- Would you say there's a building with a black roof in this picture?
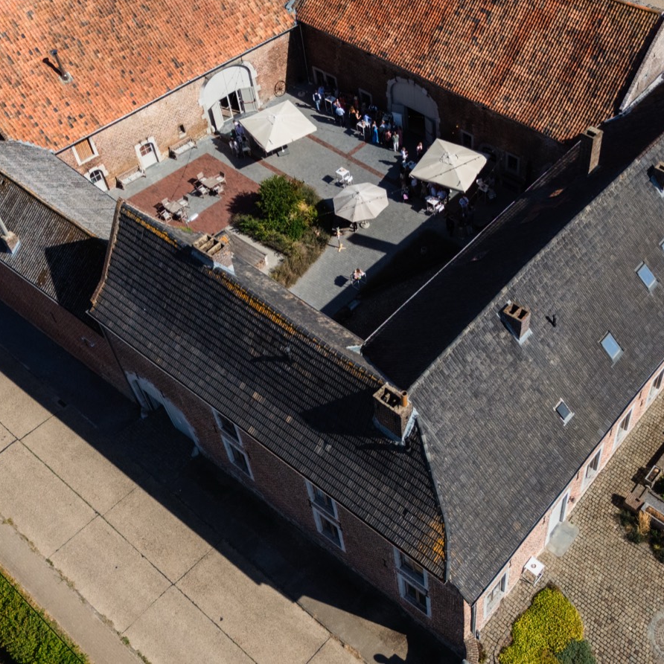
Yes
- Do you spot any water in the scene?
No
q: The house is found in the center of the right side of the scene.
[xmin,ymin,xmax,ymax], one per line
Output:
[365,88,664,647]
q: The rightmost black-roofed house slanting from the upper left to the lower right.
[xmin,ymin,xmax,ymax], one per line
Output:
[84,198,463,649]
